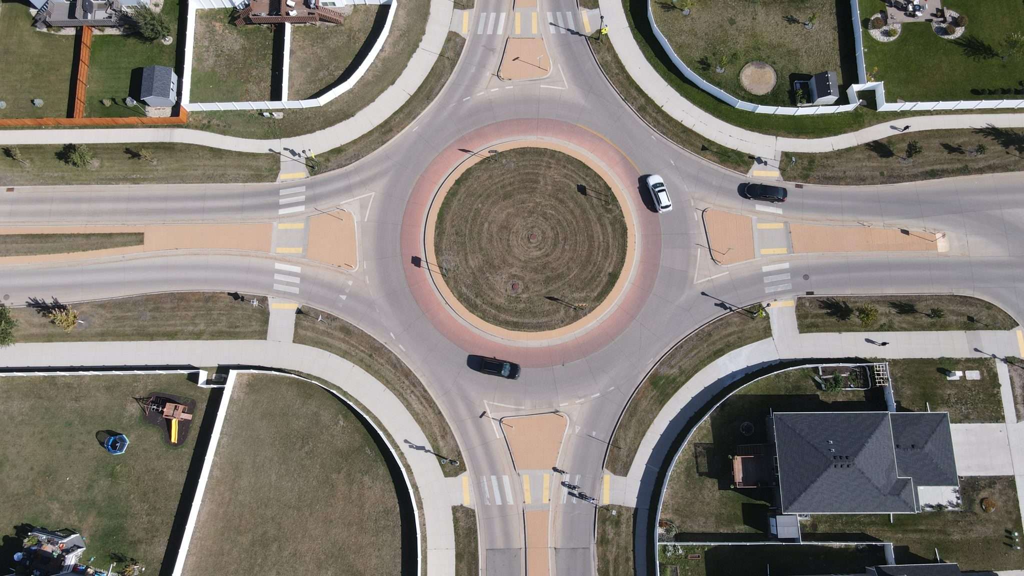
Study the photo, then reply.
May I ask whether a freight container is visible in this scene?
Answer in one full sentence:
No, no freight container is visible in the view.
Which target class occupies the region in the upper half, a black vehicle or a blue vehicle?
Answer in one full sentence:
It is a black vehicle that can be seen in the upper half.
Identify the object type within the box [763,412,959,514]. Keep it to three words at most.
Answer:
house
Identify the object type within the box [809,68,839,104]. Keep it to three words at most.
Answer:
shed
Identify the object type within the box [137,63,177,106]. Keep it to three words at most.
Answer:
shed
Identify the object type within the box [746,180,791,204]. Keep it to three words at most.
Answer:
car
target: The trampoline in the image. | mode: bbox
[102,435,127,454]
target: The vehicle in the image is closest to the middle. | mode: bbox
[479,356,522,380]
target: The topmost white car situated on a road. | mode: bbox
[649,173,676,212]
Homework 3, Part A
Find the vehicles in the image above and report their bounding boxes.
[649,173,676,212]
[746,180,791,204]
[479,356,522,380]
